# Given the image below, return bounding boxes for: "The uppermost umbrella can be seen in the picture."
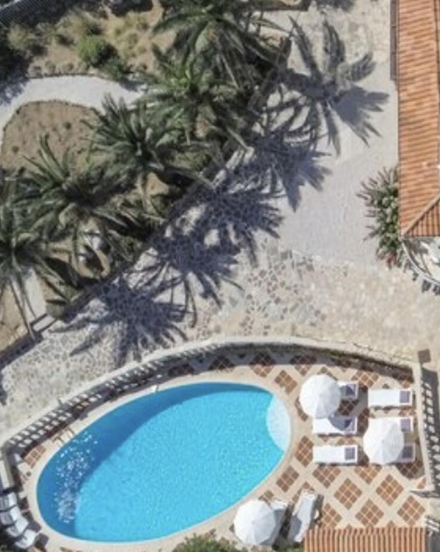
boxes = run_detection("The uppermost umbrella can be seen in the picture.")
[300,376,342,417]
